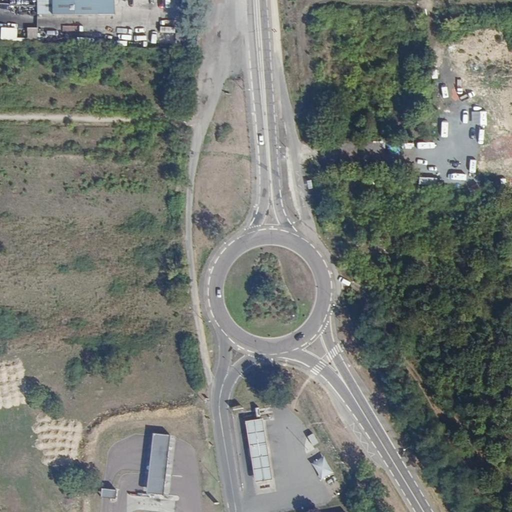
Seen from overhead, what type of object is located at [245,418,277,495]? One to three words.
building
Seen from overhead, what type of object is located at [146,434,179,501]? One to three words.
building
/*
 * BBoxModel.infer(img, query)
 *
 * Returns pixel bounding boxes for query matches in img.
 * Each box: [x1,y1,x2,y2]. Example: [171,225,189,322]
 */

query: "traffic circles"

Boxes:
[208,228,333,354]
